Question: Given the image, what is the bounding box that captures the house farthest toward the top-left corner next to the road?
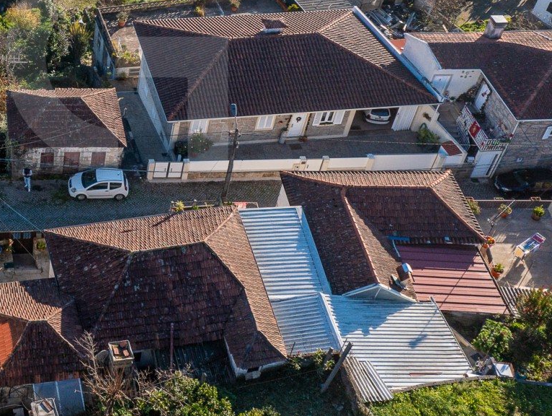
[6,86,128,175]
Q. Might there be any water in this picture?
No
